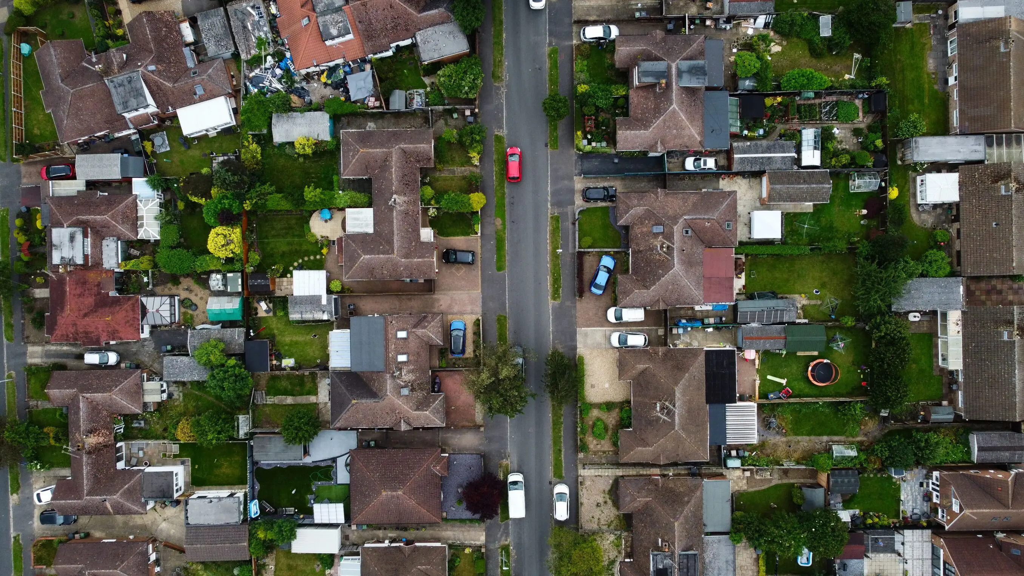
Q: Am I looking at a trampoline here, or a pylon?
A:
trampoline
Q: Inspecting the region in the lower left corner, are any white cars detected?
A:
Yes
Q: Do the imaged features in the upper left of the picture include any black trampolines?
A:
No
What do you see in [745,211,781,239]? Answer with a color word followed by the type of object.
white gazebo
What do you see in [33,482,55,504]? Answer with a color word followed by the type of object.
white car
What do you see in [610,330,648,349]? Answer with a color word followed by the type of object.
white car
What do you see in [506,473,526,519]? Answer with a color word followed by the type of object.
white vehicle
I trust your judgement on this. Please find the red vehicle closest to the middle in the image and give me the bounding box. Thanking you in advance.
[505,147,523,183]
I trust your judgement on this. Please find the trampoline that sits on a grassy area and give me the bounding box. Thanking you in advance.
[809,357,842,386]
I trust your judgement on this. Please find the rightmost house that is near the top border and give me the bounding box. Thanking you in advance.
[946,0,1024,136]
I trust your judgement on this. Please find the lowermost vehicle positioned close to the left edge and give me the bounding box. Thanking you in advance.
[39,508,79,528]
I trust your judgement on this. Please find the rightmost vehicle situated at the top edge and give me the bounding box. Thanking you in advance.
[581,23,618,49]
